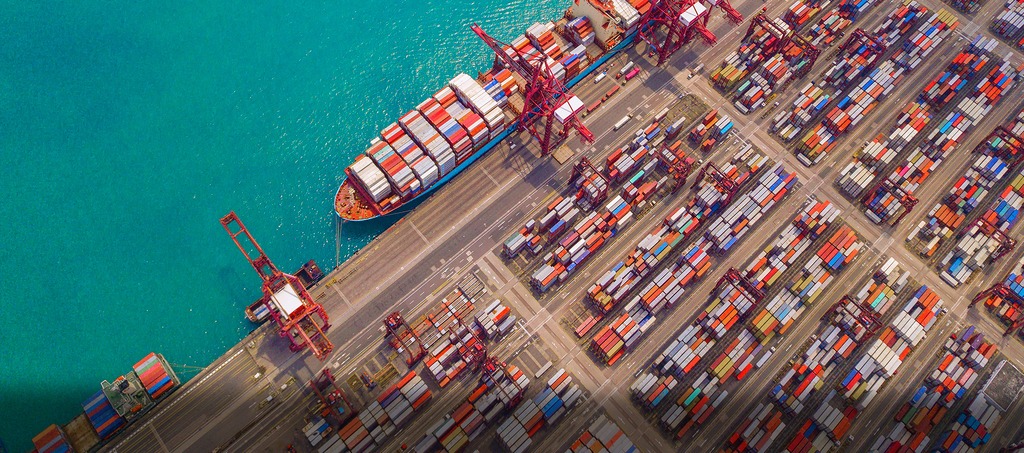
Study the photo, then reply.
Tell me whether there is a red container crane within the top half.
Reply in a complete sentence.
Yes, looking within the top half, one can make out a red container crane.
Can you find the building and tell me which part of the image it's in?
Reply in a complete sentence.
The building is located in the bottom right region of the scene.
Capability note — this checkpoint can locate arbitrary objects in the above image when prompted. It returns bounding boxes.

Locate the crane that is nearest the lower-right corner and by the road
[967,285,1024,333]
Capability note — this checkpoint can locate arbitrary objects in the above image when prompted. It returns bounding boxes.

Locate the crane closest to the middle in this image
[570,159,612,207]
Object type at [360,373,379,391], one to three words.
work vehicle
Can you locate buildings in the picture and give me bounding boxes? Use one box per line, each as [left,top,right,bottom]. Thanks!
[972,360,1024,412]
